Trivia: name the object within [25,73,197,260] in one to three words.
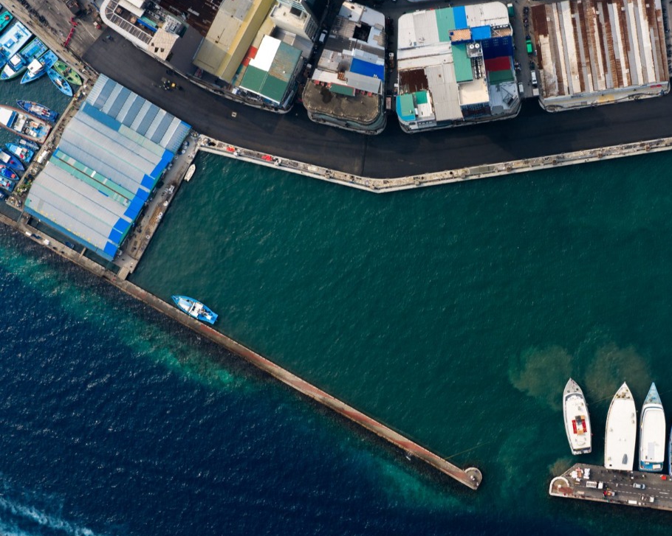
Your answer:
building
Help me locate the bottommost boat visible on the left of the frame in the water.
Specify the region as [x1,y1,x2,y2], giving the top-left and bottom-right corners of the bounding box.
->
[174,296,223,324]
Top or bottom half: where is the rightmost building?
top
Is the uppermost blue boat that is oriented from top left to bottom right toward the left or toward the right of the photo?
left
